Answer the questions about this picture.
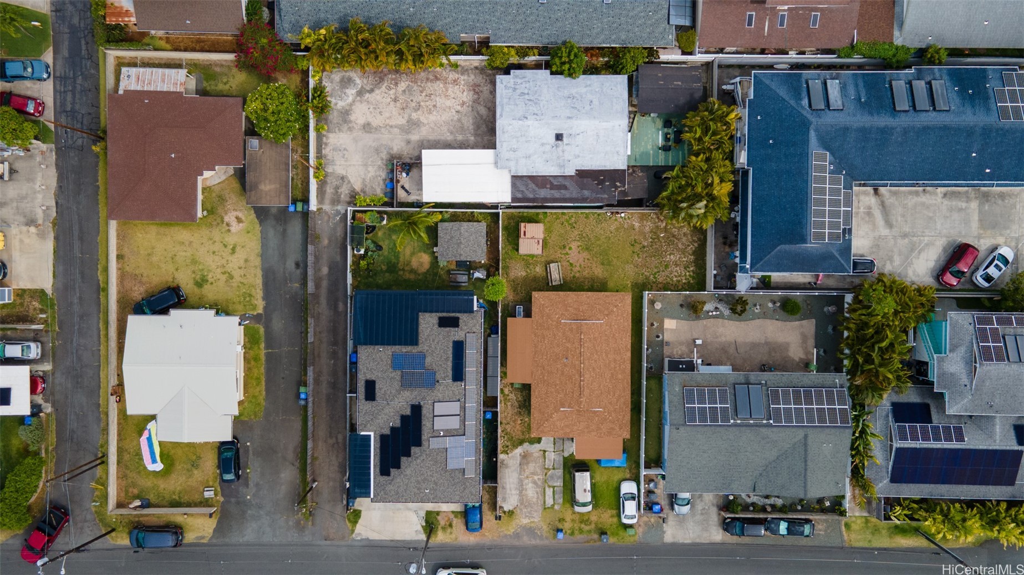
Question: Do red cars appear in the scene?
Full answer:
Yes, the picture does show a red car.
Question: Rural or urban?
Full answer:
The land in this view is best described as urban.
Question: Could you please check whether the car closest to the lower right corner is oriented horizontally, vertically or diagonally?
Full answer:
I'd say the car closest to the lower right corner is aligned horizontally in the picture.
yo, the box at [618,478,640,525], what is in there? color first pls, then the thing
white car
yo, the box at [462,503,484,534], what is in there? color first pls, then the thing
blue car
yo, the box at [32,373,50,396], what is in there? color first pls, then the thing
red car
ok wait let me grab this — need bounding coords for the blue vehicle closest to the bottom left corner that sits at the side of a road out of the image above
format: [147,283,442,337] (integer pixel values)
[131,524,185,549]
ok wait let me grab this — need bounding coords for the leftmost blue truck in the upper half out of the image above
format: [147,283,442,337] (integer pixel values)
[0,58,53,83]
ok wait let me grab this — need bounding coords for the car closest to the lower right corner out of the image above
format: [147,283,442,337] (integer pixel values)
[766,516,815,540]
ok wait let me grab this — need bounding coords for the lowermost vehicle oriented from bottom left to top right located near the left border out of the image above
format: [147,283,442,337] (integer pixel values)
[23,504,72,563]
